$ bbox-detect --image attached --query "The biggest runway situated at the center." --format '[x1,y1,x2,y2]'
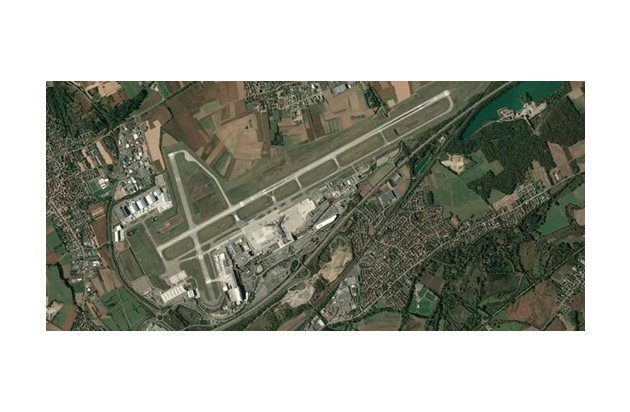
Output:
[156,89,452,252]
